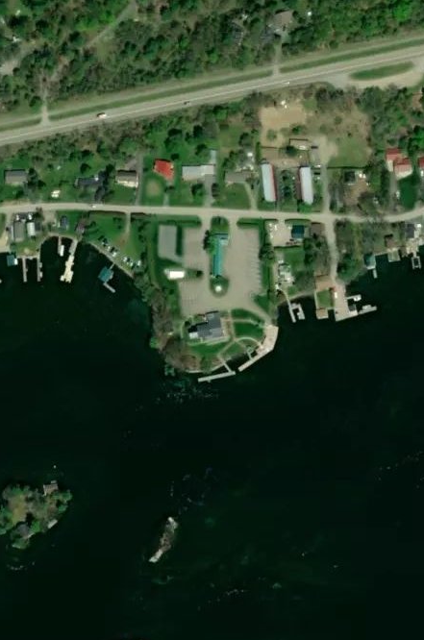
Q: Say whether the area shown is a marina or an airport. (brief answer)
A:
marina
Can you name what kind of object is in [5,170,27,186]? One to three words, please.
house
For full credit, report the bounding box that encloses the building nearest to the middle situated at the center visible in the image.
[188,312,222,339]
